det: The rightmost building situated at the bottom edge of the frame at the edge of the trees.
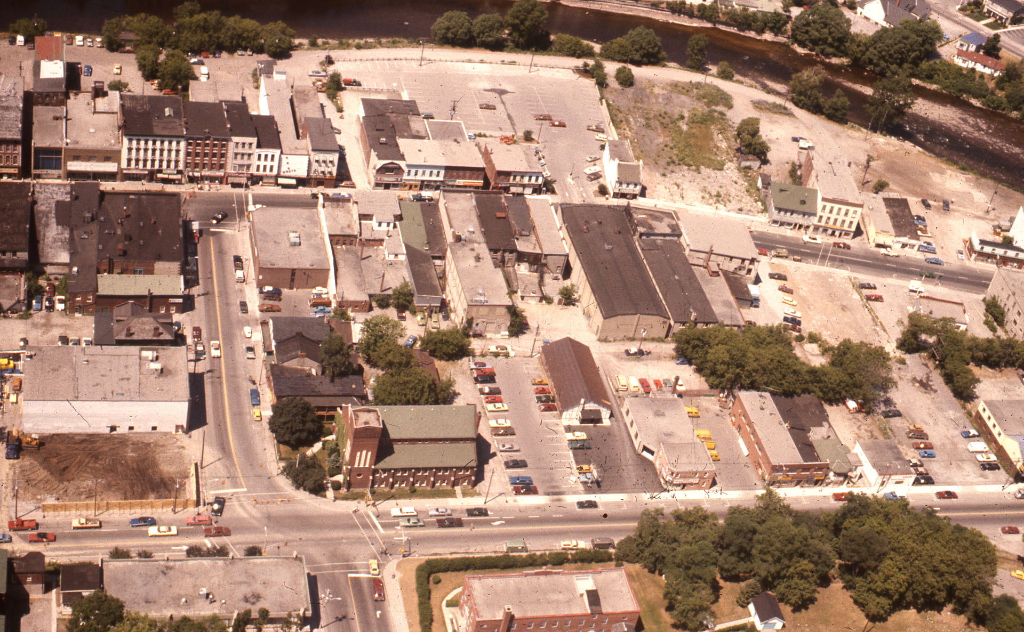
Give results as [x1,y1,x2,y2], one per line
[750,592,786,630]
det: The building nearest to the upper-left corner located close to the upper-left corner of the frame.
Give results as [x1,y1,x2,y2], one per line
[33,35,65,105]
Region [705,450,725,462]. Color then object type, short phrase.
yellow vehicle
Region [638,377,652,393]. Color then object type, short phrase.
red car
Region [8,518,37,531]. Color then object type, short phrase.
red vehicle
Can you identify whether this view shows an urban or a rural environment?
urban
